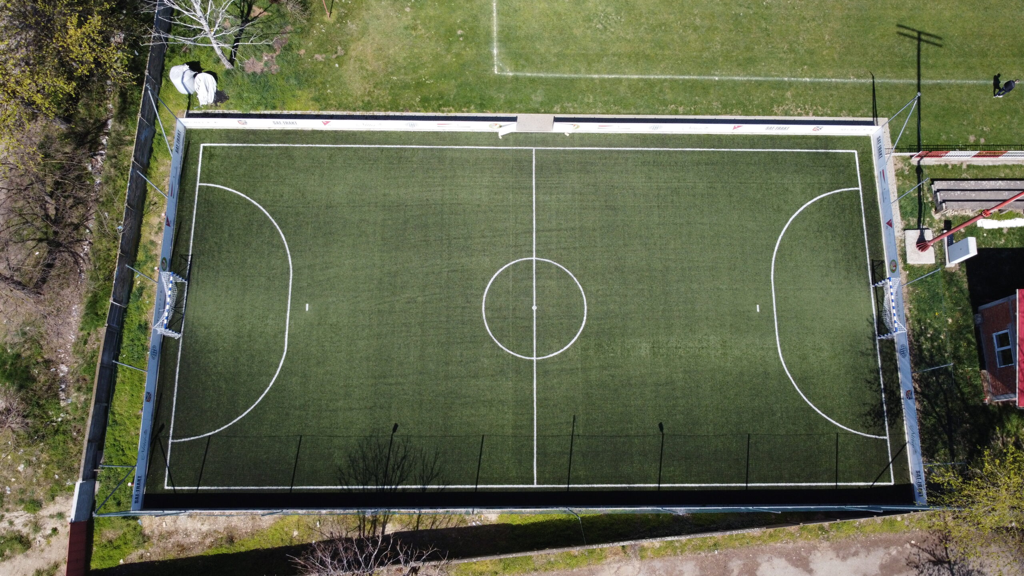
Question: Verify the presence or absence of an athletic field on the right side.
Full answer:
Yes, the scene does show an athletic field on the right side.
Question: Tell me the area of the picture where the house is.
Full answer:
The house is in the right part of the image.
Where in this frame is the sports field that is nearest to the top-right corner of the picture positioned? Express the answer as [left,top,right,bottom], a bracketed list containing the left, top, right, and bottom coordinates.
[494,0,1024,83]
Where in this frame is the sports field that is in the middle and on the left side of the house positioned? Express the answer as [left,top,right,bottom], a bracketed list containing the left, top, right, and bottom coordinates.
[144,129,916,508]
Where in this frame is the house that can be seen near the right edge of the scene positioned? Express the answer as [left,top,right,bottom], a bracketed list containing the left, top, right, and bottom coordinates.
[971,285,1024,407]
